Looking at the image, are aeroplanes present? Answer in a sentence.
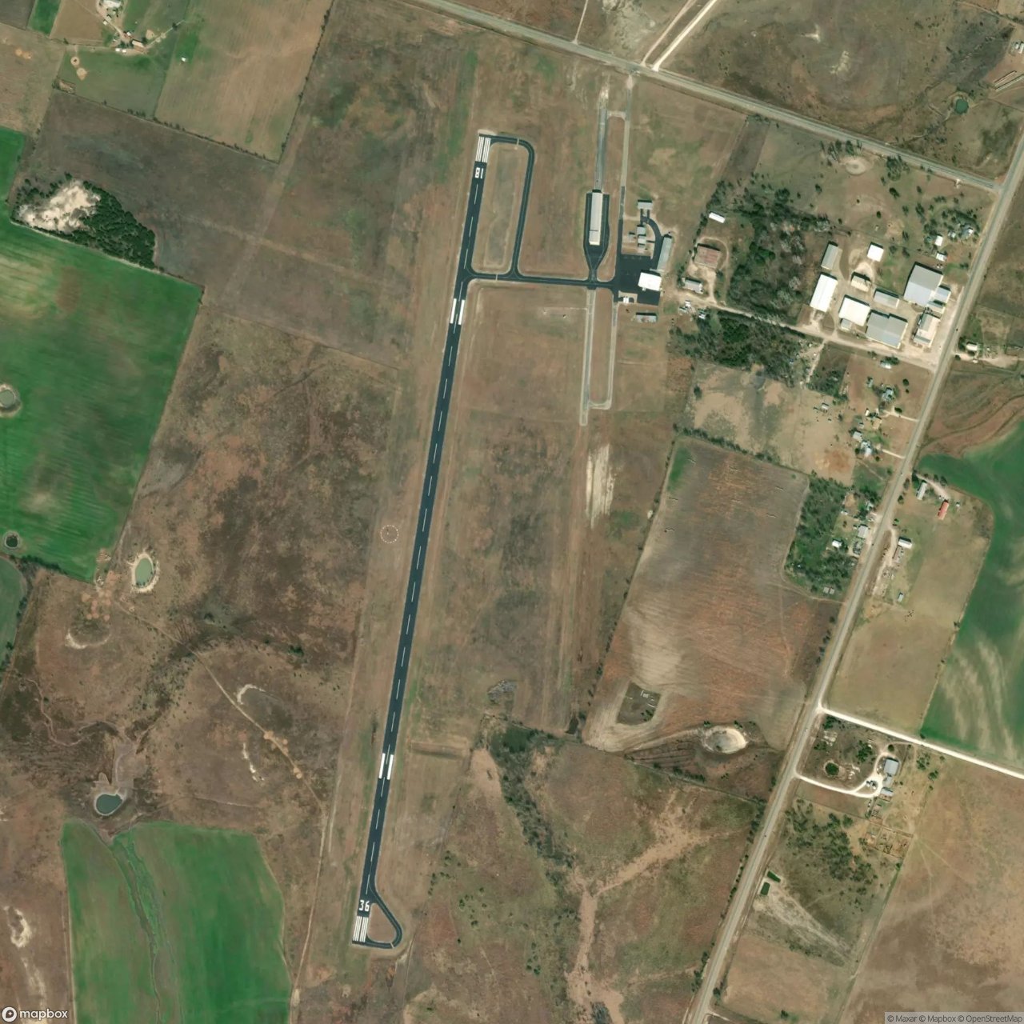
No, there is no aeroplane in the image.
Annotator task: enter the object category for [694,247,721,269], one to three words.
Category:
barn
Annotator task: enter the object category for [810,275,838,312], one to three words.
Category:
building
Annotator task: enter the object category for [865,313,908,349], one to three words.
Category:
building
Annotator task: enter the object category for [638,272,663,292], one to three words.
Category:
hangar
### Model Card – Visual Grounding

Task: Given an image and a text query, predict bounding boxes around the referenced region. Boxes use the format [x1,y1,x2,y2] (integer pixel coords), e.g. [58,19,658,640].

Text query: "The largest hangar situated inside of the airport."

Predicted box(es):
[589,193,603,246]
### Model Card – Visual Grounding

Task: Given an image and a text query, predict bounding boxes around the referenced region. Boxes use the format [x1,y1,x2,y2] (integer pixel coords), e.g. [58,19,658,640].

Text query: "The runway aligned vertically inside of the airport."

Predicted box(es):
[353,133,491,945]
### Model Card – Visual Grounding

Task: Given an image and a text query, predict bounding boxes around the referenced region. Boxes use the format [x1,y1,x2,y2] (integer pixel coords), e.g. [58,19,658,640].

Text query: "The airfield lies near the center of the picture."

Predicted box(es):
[353,108,663,949]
